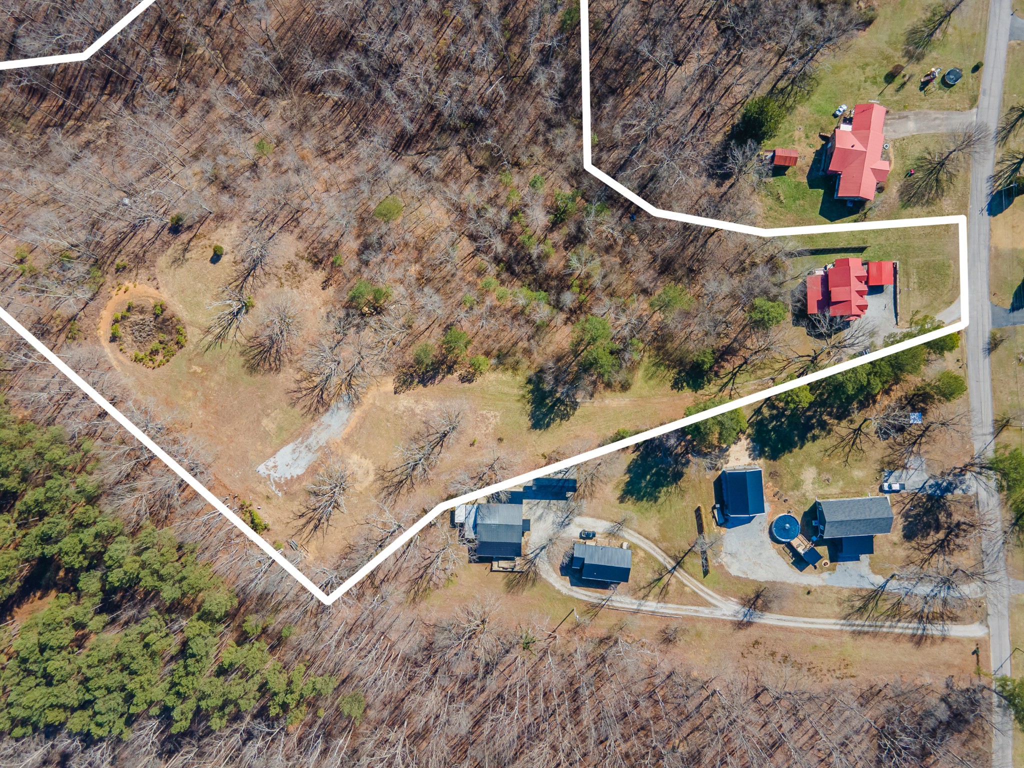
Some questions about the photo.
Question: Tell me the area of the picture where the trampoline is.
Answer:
top right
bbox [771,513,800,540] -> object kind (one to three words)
swimming pool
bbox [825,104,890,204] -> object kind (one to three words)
house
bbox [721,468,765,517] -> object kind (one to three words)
building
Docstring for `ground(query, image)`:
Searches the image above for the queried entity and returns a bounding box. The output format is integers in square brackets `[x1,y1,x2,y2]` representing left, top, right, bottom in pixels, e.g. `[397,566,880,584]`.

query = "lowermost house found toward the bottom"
[572,543,632,584]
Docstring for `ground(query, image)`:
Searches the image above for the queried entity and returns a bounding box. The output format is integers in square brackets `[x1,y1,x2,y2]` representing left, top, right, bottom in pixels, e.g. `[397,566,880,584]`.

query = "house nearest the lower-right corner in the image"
[817,496,894,555]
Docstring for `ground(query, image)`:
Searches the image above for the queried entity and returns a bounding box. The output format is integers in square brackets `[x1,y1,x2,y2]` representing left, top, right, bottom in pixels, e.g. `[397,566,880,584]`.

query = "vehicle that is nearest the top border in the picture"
[836,101,850,116]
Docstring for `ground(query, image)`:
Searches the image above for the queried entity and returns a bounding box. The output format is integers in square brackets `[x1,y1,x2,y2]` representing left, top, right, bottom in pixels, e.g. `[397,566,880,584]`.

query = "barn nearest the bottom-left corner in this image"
[455,491,530,557]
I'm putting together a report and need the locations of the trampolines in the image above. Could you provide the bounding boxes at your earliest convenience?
[944,65,966,85]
